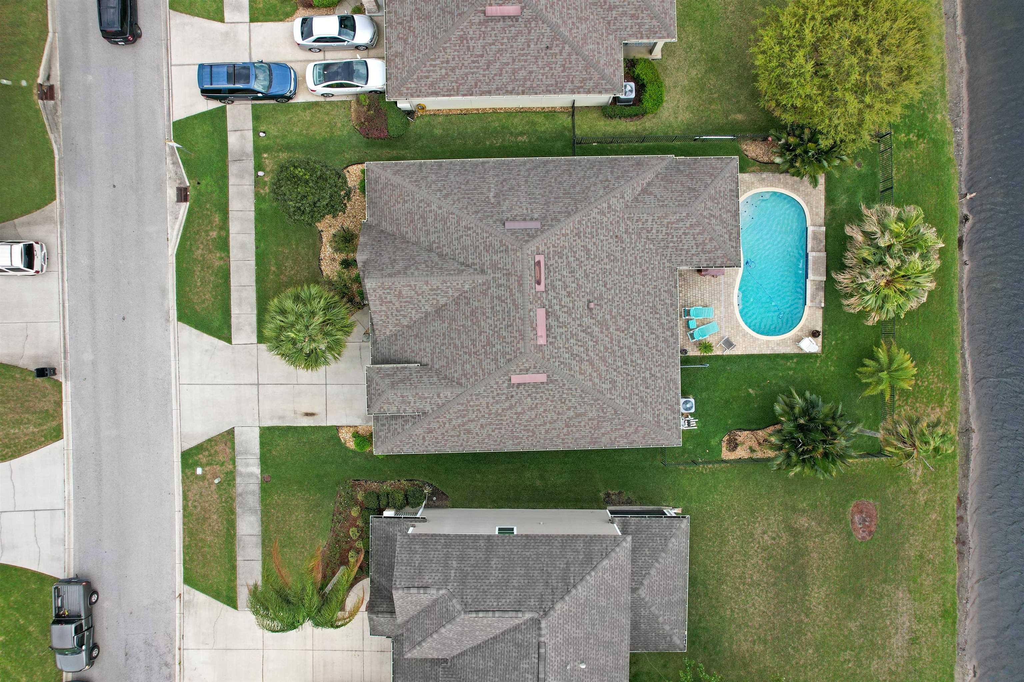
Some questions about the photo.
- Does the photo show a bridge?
No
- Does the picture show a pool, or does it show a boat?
pool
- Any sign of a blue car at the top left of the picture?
Yes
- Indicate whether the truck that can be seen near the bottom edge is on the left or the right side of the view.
left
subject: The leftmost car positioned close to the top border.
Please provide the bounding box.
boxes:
[98,0,142,43]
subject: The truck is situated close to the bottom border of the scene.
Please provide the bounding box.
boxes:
[47,572,100,673]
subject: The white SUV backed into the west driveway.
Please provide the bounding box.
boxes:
[0,241,50,277]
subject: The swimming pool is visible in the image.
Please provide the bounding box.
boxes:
[734,187,810,340]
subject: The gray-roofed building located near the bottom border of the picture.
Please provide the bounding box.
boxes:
[366,498,691,682]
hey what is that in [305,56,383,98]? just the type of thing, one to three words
car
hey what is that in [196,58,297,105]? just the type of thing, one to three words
car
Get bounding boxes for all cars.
[98,0,142,43]
[196,58,297,105]
[0,241,50,277]
[292,10,377,53]
[305,56,383,98]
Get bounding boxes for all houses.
[356,153,743,457]
[366,498,691,682]
[362,0,679,113]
